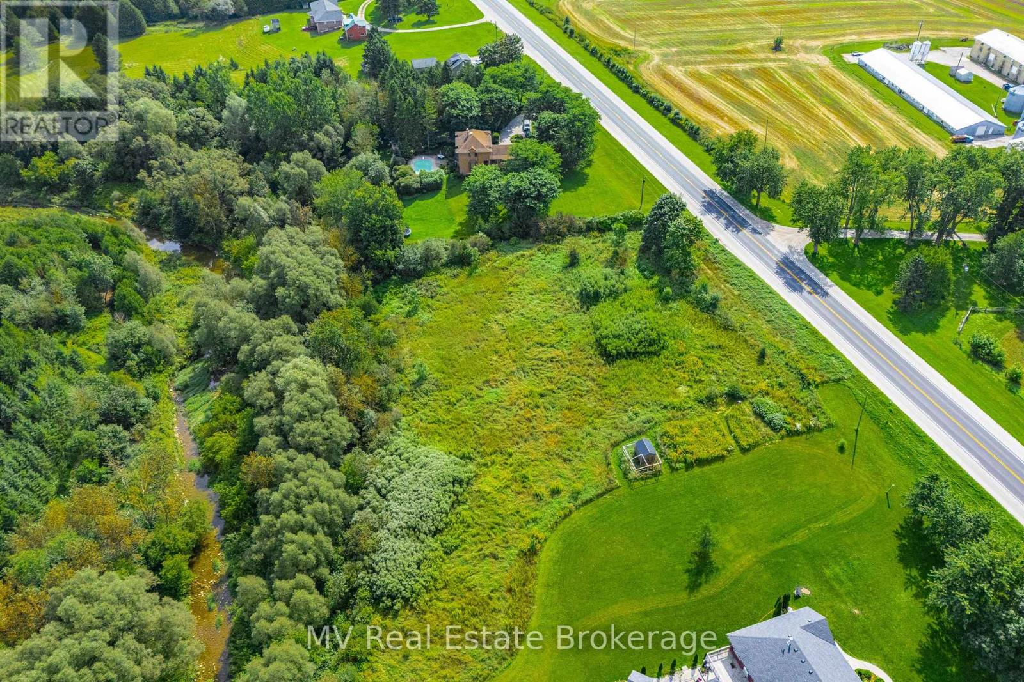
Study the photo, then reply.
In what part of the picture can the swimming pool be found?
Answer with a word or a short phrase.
top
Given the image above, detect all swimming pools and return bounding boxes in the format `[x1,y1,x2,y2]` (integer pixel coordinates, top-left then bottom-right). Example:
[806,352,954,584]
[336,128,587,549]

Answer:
[406,153,442,175]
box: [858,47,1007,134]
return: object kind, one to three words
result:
barn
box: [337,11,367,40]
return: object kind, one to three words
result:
building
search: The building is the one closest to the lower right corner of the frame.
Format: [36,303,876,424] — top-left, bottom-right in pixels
[706,607,861,682]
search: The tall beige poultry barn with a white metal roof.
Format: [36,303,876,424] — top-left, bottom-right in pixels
[970,31,1024,83]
